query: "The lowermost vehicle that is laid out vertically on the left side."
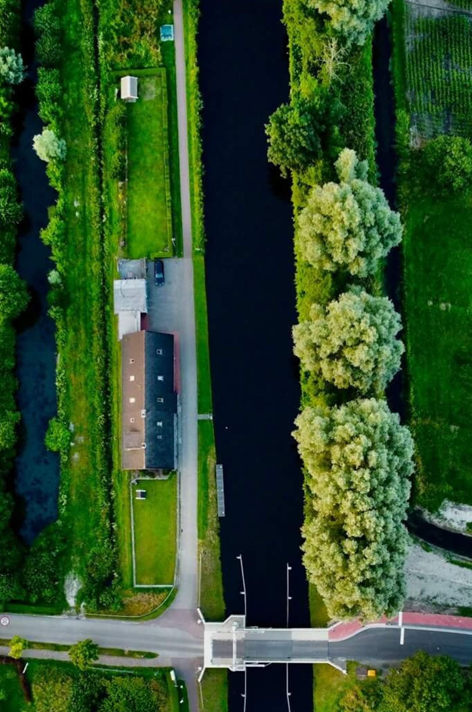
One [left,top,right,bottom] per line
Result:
[153,260,165,287]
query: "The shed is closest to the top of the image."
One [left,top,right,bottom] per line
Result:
[121,76,138,106]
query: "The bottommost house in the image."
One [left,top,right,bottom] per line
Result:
[122,329,178,471]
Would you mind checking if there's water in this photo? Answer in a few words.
Yes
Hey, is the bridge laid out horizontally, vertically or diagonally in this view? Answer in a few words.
horizontally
